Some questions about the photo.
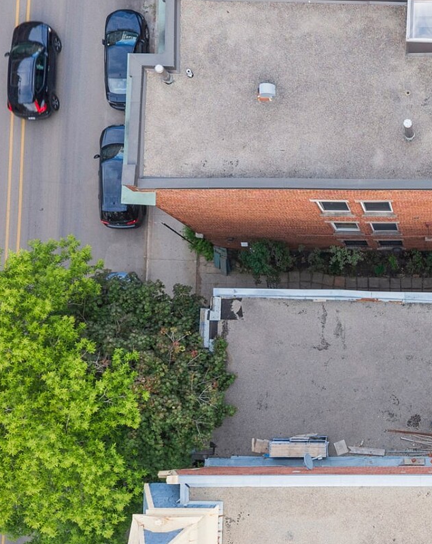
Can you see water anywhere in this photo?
No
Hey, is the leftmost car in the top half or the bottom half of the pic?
top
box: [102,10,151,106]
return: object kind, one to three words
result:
car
